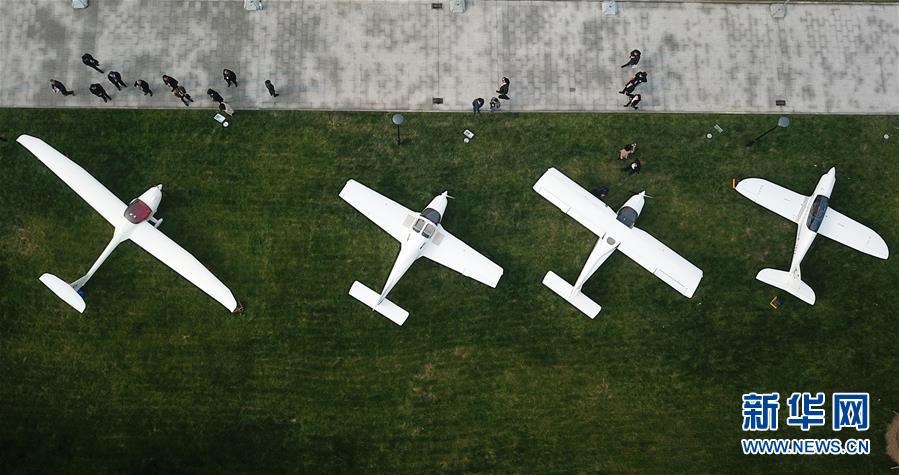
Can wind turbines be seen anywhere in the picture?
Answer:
No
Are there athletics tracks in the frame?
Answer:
No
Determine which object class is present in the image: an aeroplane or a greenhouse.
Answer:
aeroplane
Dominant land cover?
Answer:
grass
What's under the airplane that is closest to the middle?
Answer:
grass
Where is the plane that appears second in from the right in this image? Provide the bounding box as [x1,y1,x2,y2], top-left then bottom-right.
[533,168,704,319]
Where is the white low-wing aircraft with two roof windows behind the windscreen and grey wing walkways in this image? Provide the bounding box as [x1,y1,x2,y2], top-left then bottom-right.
[339,179,503,324]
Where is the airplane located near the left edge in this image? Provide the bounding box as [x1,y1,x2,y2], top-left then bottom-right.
[19,137,237,313]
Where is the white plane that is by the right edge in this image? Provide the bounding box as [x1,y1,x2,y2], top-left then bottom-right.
[737,168,890,305]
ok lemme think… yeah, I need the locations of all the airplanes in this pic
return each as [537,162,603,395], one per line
[533,168,704,319]
[737,168,890,305]
[339,179,503,324]
[19,137,237,313]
